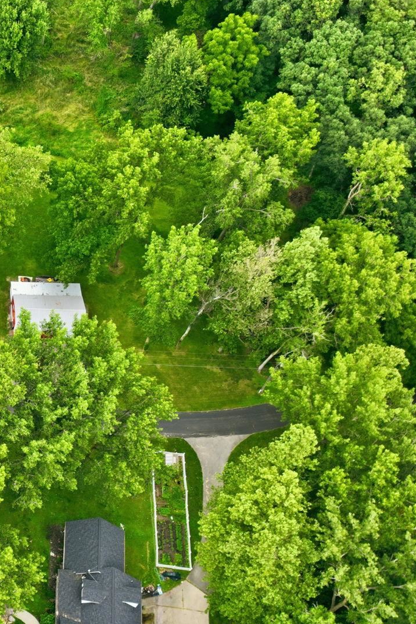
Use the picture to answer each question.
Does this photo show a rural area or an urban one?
rural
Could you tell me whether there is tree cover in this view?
Yes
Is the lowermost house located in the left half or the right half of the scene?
left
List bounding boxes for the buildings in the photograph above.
[51,518,146,624]
[8,282,88,329]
